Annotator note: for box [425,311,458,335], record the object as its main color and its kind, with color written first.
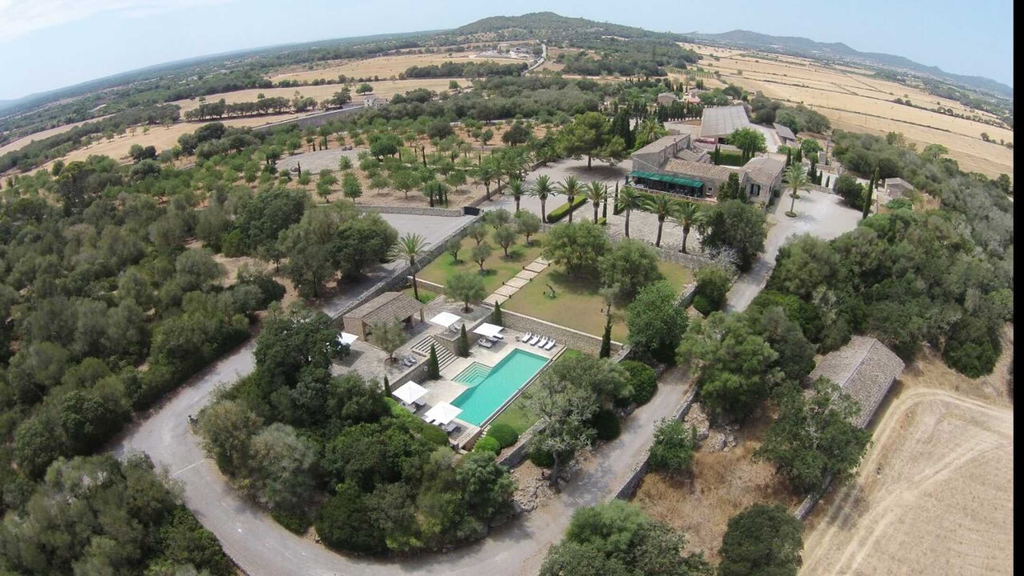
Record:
white umbrella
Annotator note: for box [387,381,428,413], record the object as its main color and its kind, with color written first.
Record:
white umbrella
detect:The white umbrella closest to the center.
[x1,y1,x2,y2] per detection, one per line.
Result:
[468,321,500,347]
